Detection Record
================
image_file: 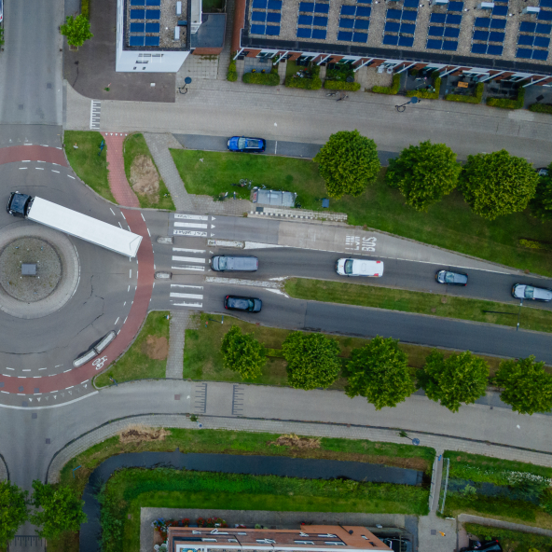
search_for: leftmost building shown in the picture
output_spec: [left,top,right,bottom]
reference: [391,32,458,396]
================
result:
[117,0,203,72]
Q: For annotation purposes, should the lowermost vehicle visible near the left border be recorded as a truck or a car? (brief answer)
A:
truck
